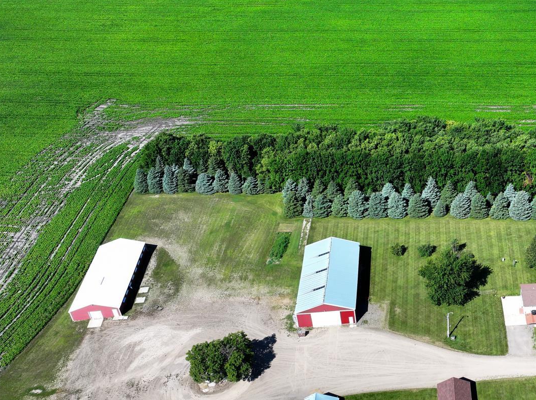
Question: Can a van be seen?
No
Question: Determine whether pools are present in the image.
No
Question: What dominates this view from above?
farmland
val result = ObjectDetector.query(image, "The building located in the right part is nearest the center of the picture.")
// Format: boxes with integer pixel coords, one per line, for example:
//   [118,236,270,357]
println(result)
[295,234,361,328]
